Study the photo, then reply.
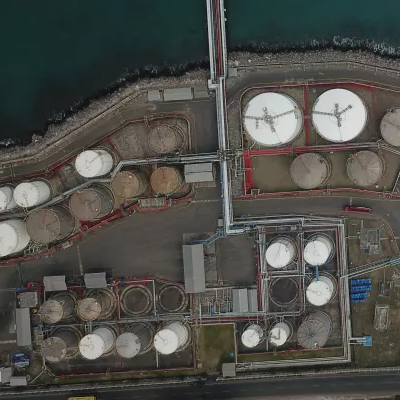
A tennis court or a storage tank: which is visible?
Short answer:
storage tank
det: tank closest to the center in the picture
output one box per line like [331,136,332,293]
[149,163,189,196]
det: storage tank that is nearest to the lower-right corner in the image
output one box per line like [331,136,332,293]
[298,307,336,350]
